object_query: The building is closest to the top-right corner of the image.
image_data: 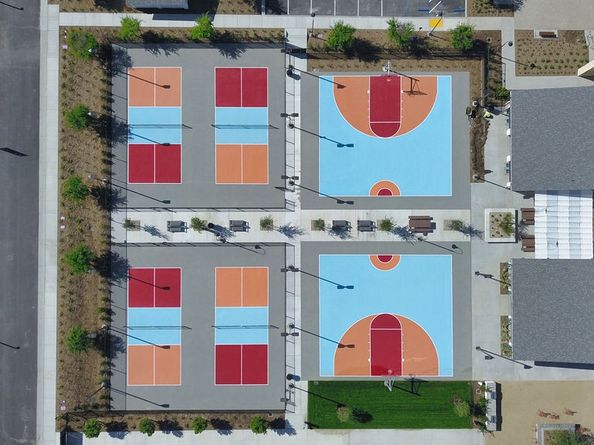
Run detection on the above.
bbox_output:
[506,85,594,190]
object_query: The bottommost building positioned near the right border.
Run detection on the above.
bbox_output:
[506,259,594,364]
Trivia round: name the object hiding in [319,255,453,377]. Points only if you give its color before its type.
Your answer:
blue basketball court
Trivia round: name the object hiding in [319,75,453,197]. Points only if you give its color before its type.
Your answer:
blue basketball court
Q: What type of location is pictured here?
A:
sports ground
